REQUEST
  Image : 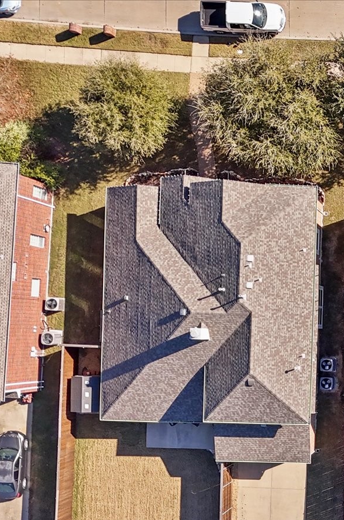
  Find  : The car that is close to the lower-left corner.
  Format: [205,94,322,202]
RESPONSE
[0,433,31,500]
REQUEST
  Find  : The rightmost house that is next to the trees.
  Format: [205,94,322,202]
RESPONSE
[100,175,326,462]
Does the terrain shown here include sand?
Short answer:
No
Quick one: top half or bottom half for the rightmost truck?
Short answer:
top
